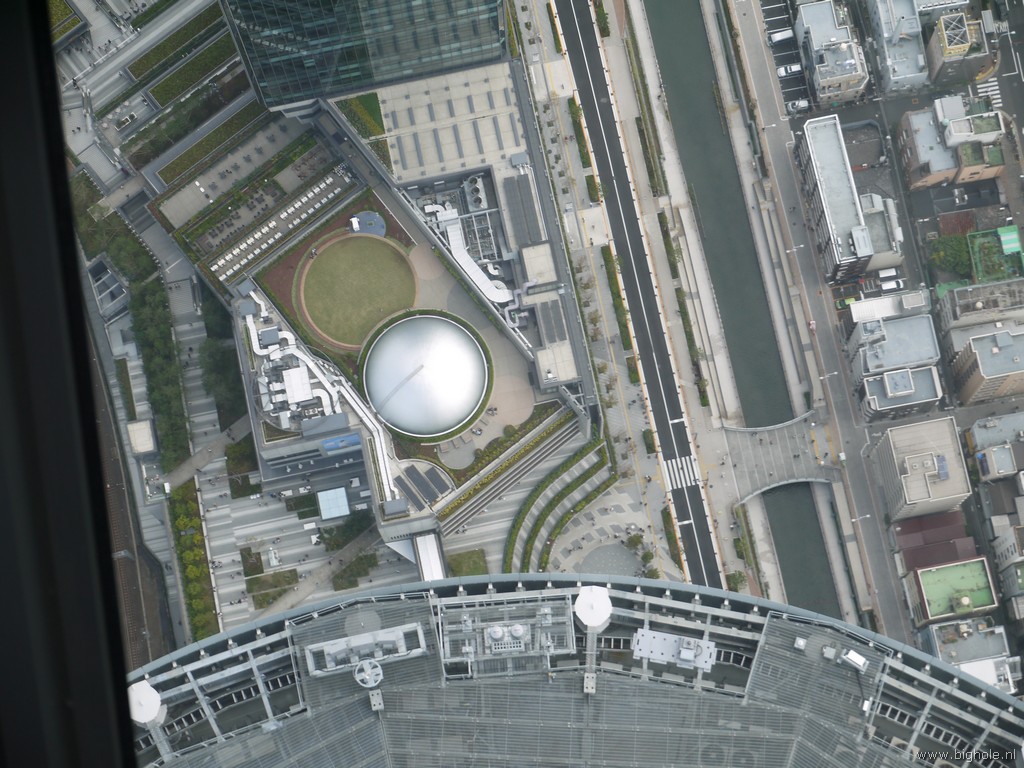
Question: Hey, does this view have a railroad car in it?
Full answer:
No, the scene contains no railroad car.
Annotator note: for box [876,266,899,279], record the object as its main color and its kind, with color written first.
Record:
white vehicle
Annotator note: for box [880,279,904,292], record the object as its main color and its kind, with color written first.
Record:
white vehicle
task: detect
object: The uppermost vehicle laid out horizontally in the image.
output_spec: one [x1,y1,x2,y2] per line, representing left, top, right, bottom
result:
[768,28,794,43]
